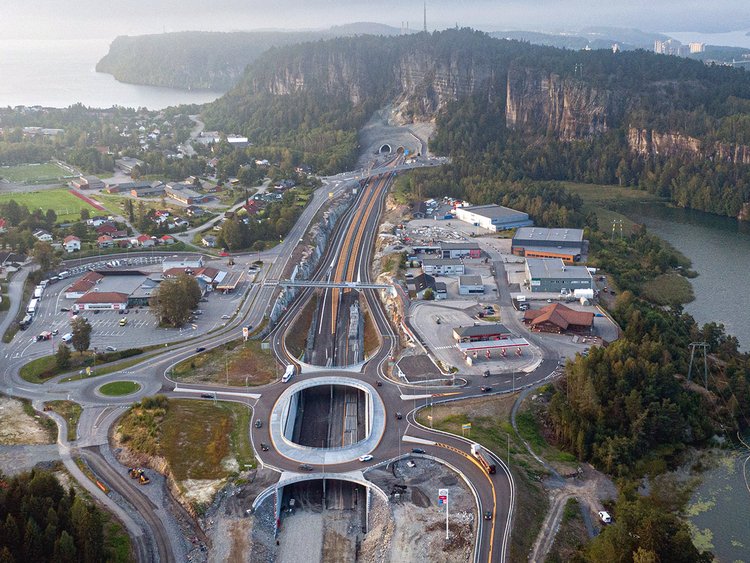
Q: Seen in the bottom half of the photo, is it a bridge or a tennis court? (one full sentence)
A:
The one visible in the bottom half of the photo is a bridge.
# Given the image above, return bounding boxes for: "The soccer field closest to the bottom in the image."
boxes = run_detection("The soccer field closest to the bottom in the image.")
[0,190,103,224]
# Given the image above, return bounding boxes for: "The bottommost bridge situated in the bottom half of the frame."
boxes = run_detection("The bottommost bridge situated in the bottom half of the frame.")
[246,325,404,531]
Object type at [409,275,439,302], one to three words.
house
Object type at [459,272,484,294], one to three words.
building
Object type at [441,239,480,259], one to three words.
building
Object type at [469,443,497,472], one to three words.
truck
